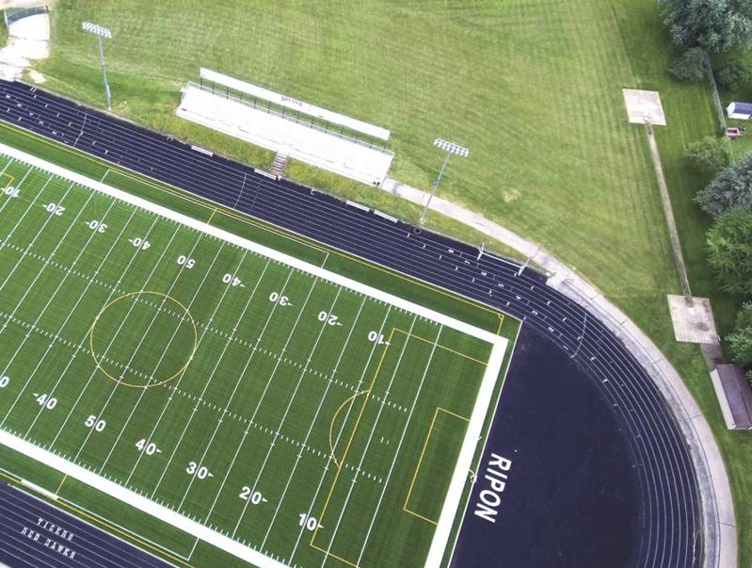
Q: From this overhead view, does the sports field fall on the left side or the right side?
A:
left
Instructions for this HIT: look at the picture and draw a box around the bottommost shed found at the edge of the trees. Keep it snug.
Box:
[710,361,752,430]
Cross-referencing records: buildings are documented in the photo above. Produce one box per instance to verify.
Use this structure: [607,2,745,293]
[710,361,752,430]
[723,97,752,120]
